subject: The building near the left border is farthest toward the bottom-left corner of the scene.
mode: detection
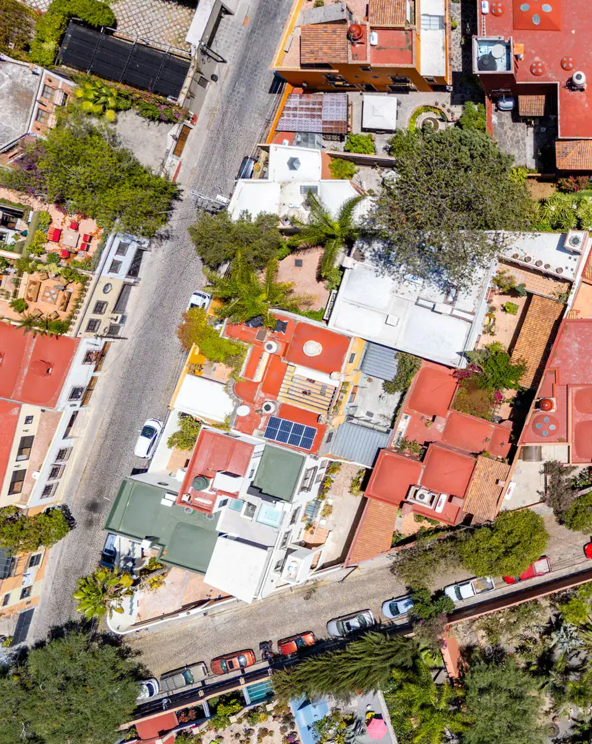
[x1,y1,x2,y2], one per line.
[0,626,47,668]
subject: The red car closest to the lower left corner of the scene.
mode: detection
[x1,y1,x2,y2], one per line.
[210,647,258,676]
